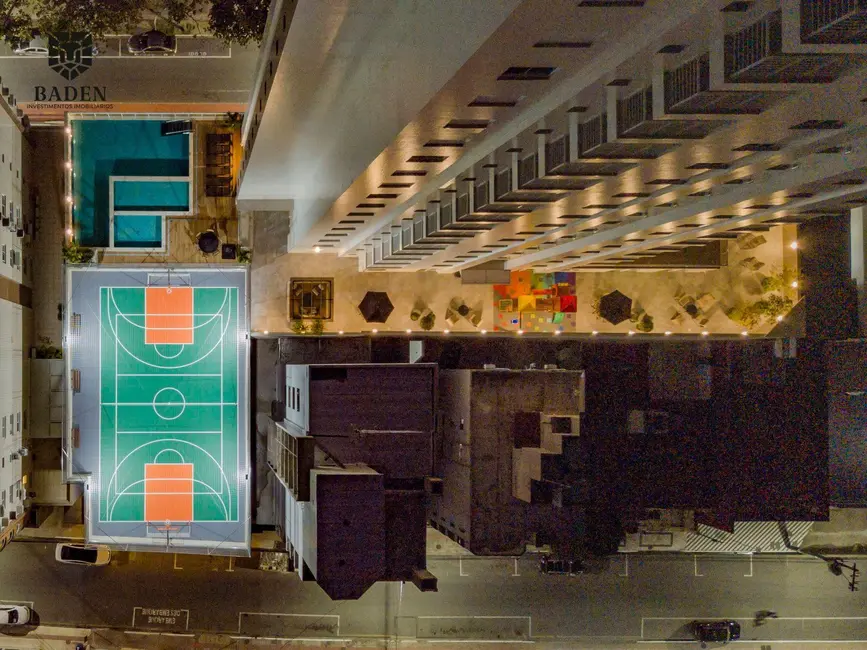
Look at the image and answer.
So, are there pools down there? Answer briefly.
Yes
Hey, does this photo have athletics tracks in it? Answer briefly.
No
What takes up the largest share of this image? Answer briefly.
buildings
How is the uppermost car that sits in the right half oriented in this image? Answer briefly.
horizontally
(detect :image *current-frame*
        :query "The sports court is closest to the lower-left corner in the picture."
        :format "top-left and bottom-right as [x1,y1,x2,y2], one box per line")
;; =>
[69,267,246,546]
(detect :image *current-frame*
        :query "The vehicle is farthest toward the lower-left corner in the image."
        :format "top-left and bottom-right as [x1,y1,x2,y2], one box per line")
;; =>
[0,602,31,628]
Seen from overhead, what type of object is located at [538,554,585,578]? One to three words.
car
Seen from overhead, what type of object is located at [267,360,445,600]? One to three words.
house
